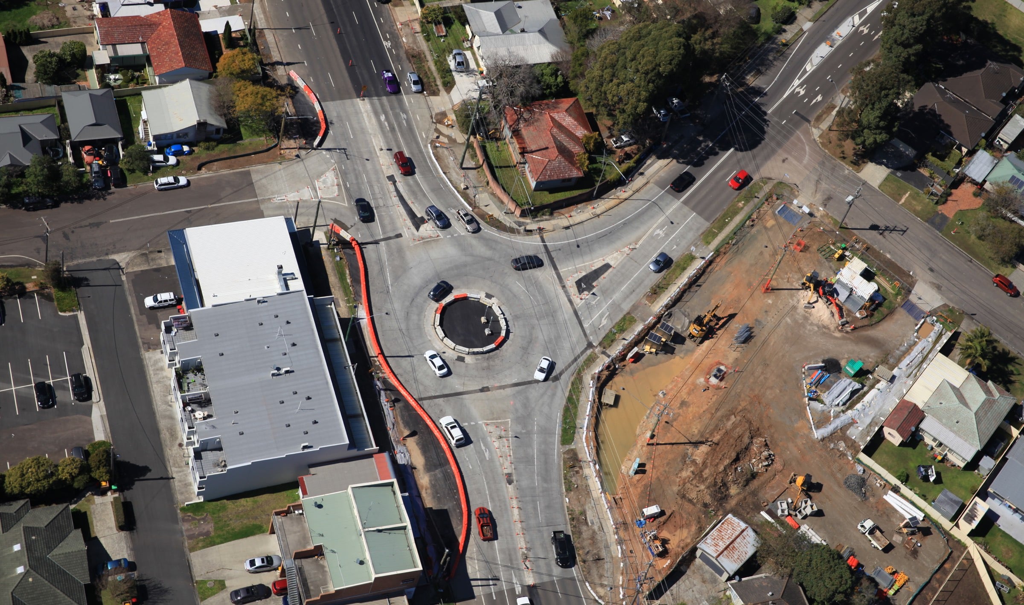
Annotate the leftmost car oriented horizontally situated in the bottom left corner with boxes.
[96,557,134,579]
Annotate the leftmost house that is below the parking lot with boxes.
[0,499,90,605]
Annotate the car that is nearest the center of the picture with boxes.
[510,254,544,272]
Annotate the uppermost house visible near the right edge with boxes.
[943,61,1024,121]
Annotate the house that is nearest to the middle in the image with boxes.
[507,97,592,192]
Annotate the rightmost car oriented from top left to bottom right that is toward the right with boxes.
[989,272,1022,299]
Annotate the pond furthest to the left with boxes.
[596,357,704,499]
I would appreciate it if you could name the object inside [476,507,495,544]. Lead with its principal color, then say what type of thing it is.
red vehicle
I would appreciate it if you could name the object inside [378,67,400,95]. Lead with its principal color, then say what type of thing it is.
purple truck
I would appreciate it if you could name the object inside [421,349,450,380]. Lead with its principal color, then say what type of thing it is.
white car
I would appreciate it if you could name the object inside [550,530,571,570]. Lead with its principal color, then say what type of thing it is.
black truck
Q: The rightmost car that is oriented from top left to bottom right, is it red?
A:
Yes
